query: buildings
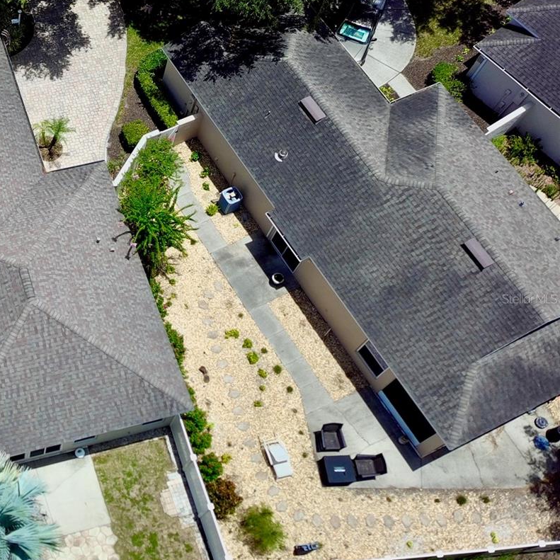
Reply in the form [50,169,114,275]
[0,33,195,456]
[162,6,560,455]
[463,0,560,167]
